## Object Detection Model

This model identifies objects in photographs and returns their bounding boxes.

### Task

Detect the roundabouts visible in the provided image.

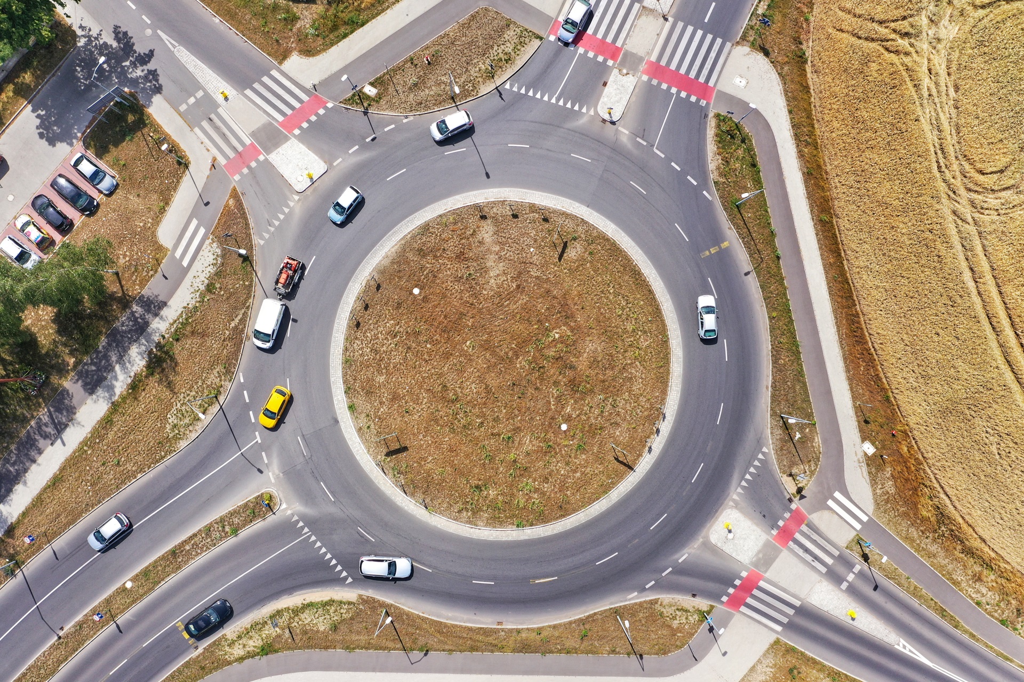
[230,91,771,628]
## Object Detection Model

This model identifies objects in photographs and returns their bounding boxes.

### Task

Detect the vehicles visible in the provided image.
[250,298,286,350]
[46,172,100,215]
[183,596,234,640]
[359,555,412,581]
[328,184,364,224]
[0,235,44,276]
[259,384,292,430]
[14,214,55,251]
[557,0,590,45]
[88,511,132,551]
[31,193,75,234]
[430,109,474,143]
[69,152,119,195]
[695,294,719,339]
[280,259,299,289]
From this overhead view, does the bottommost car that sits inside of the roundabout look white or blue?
white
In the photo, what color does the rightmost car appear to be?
white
